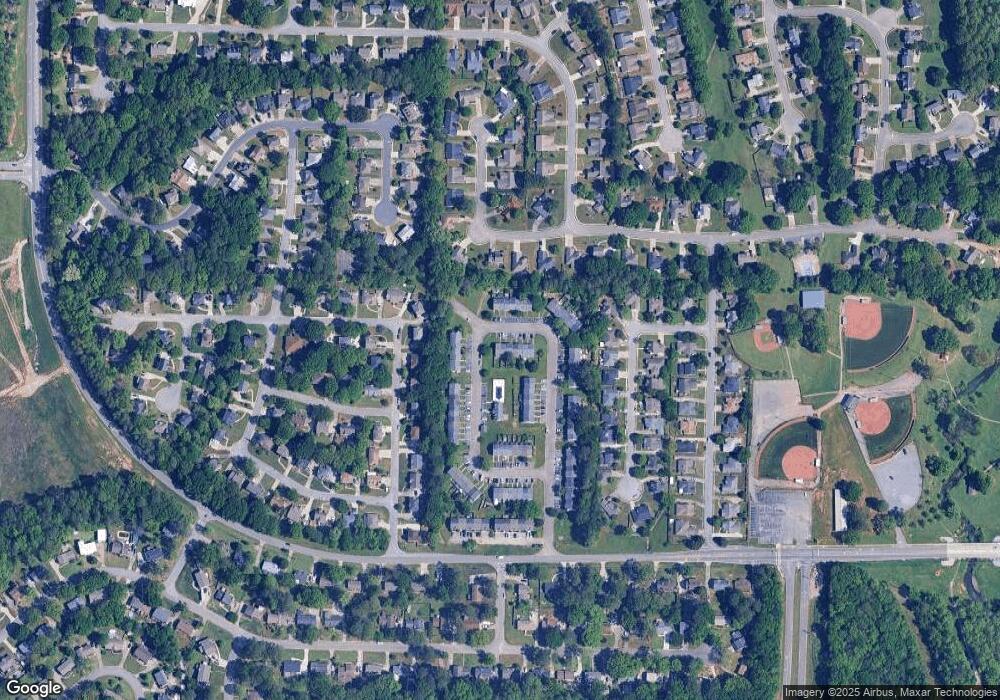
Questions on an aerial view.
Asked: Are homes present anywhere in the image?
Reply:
Yes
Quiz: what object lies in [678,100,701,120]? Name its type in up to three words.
house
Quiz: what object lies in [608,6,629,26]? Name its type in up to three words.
house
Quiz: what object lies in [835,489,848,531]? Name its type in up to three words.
building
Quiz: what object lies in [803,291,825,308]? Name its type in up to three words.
building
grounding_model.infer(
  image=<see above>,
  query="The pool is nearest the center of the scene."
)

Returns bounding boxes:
[492,379,505,402]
